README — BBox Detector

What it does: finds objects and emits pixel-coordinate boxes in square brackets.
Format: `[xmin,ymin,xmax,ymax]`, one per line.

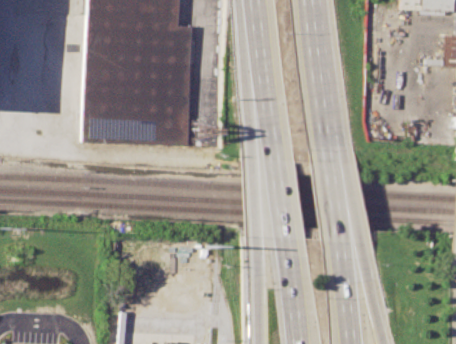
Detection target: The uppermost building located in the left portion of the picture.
[79,0,192,144]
